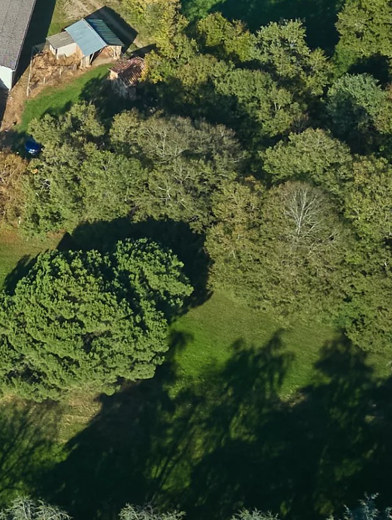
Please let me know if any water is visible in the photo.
No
